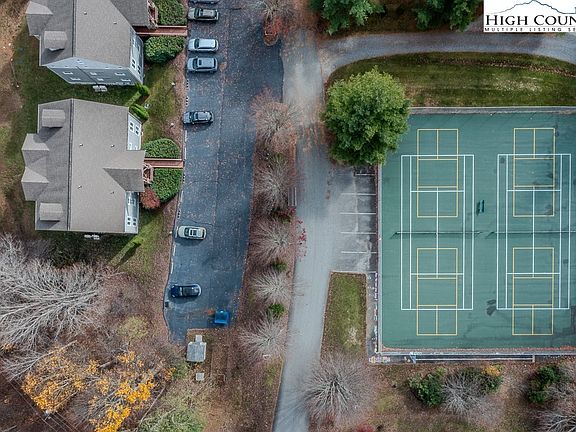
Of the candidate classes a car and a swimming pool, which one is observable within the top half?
car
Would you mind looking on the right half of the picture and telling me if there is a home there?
No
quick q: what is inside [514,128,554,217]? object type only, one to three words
sports court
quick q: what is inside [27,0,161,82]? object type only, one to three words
house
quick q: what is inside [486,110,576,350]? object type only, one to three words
tennis court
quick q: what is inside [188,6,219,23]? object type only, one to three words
car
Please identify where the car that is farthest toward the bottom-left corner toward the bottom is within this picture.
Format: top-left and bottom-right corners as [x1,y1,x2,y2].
[170,284,202,298]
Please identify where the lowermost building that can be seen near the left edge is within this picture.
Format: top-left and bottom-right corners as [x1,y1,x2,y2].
[23,98,156,232]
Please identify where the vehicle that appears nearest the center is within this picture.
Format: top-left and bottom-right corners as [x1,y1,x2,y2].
[177,226,207,240]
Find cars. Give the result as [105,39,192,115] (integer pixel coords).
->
[170,284,202,298]
[188,56,218,73]
[189,37,219,53]
[188,6,219,23]
[183,109,214,125]
[177,226,207,240]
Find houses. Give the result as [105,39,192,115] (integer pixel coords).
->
[23,98,156,232]
[27,0,161,82]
